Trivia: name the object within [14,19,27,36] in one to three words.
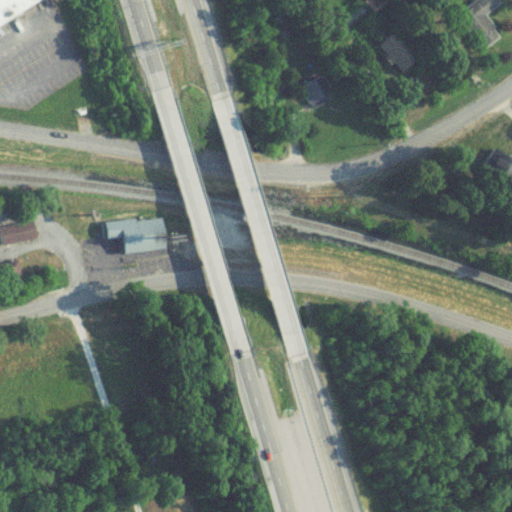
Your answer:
vehicle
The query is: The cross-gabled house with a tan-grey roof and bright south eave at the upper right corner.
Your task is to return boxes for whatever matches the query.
[467,0,504,47]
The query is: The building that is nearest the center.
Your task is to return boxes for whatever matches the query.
[104,218,168,254]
